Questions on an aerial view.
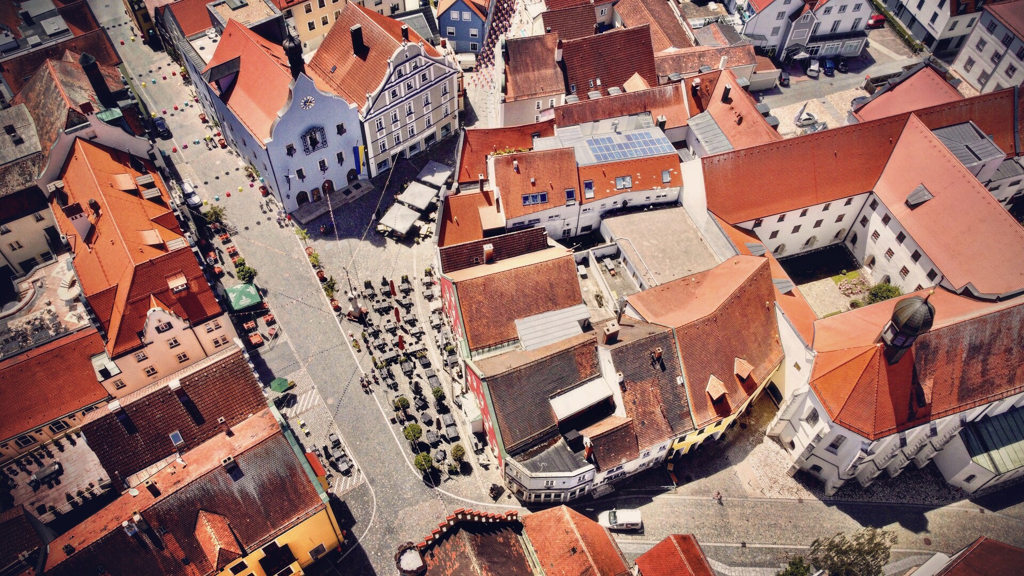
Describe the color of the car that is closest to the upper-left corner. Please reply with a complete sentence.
The car that is closest to the upper-left corner looks black in the image.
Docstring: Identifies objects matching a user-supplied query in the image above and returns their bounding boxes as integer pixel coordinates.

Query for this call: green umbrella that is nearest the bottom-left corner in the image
[271,377,289,400]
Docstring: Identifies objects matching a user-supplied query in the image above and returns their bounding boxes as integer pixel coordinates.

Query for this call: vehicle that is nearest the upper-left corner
[150,117,174,140]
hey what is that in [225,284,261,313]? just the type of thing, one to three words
umbrella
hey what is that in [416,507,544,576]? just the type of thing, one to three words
house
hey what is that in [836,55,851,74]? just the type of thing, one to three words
car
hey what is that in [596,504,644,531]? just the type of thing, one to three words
vehicle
